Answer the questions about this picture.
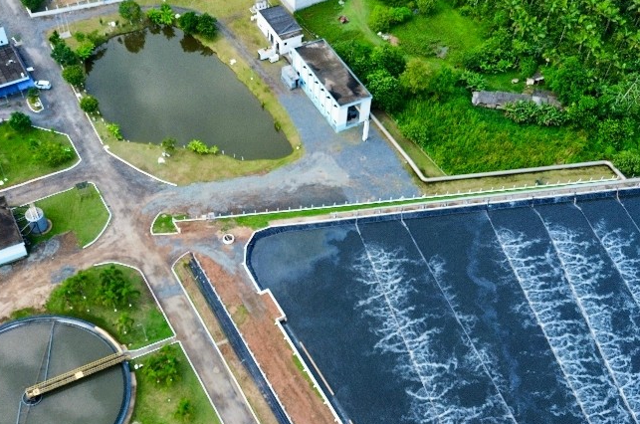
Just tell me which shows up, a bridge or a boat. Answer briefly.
bridge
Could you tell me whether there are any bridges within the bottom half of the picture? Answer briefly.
Yes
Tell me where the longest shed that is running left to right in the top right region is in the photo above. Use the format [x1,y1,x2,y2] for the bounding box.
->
[474,87,550,115]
